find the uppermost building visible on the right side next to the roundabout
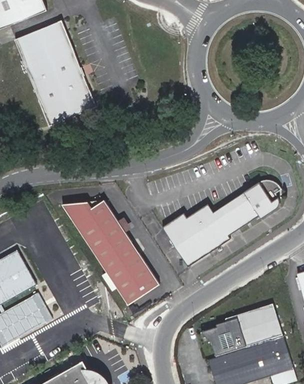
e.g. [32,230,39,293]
[162,180,282,266]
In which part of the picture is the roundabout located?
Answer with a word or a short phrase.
top right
